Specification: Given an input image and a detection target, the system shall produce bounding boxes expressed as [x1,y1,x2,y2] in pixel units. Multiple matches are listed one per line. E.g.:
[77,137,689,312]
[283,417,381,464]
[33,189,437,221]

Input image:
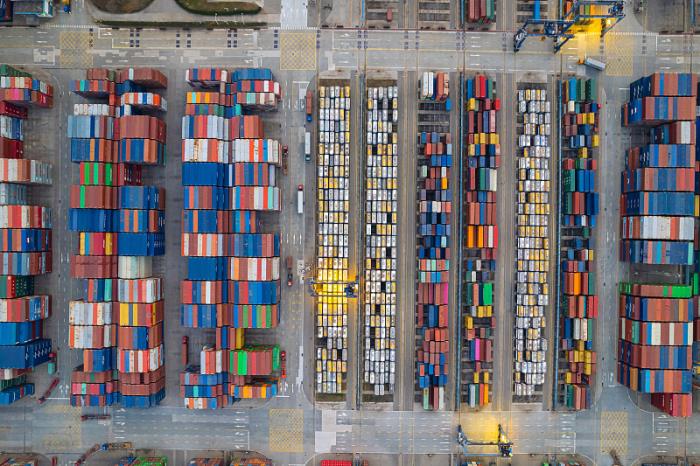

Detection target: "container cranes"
[310,276,362,299]
[563,0,630,38]
[514,18,577,53]
[459,422,517,457]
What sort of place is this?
industrial area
